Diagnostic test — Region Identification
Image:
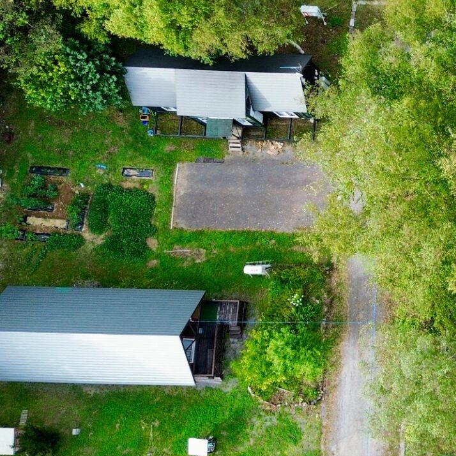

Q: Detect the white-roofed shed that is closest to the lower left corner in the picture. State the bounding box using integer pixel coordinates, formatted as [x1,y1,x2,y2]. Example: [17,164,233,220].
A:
[0,426,32,455]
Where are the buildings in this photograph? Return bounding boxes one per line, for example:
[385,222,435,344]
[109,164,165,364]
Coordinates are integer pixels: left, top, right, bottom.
[0,426,32,455]
[0,286,230,391]
[124,48,320,154]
